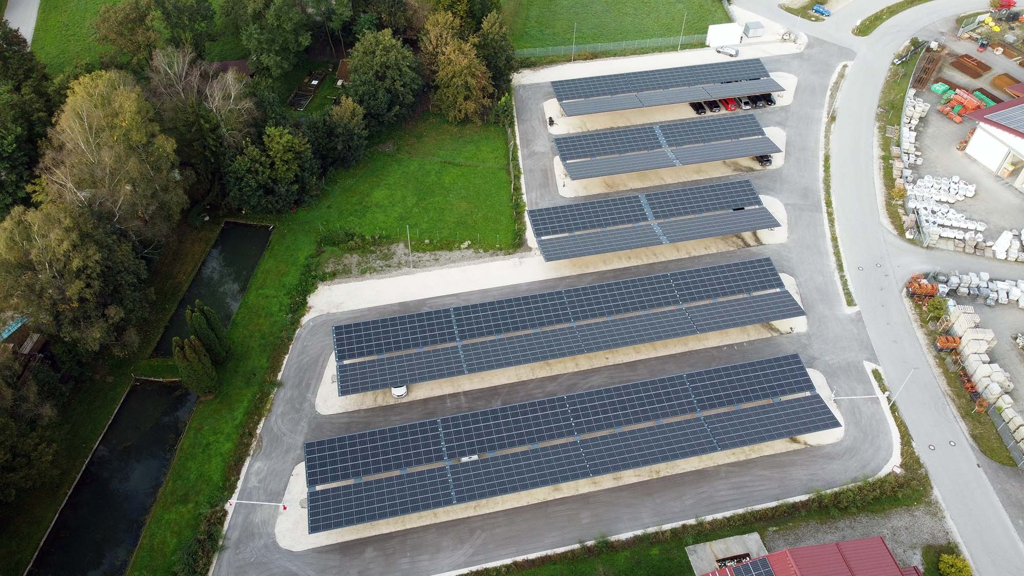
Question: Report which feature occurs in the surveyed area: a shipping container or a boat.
shipping container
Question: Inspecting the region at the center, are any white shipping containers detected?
No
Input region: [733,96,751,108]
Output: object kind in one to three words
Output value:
vehicle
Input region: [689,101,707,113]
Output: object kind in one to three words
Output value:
vehicle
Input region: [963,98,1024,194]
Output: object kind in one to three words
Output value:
building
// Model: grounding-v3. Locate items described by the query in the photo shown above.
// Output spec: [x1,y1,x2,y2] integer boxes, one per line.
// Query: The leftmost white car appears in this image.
[389,386,406,401]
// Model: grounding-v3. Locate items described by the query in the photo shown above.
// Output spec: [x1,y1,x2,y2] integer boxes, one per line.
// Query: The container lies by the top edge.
[704,21,744,46]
